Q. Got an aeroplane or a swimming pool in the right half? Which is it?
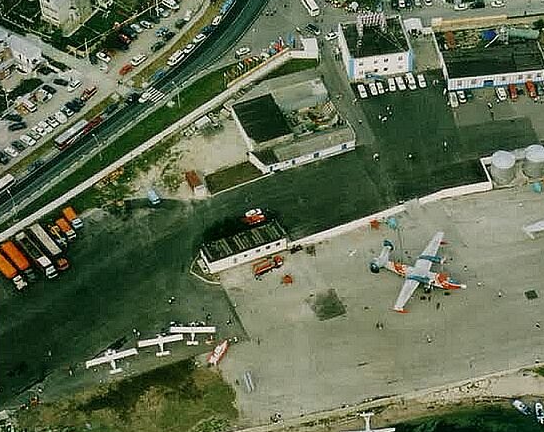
aeroplane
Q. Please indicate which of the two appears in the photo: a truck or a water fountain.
truck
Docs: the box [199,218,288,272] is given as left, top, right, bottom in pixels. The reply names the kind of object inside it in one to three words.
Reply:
shed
